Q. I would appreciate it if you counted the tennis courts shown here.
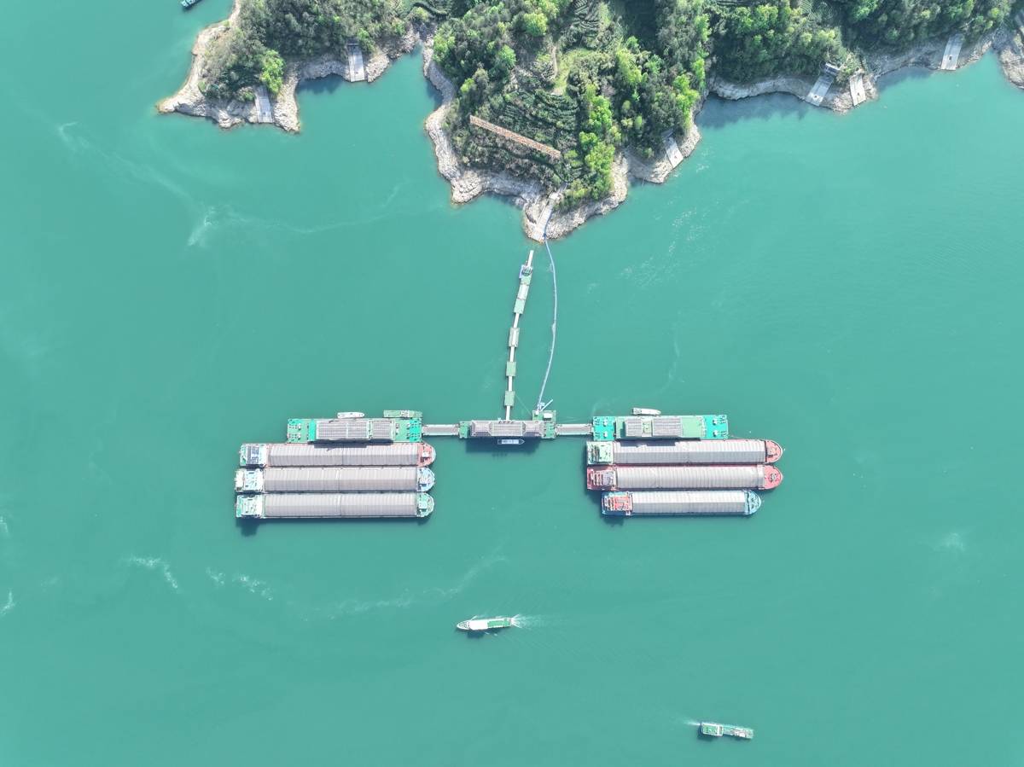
none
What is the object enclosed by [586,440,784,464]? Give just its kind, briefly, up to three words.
ship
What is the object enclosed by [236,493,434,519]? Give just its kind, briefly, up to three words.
ship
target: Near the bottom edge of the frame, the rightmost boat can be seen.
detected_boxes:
[700,722,754,739]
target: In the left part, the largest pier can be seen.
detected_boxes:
[287,418,422,443]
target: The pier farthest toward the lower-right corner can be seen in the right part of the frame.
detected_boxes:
[593,415,729,441]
